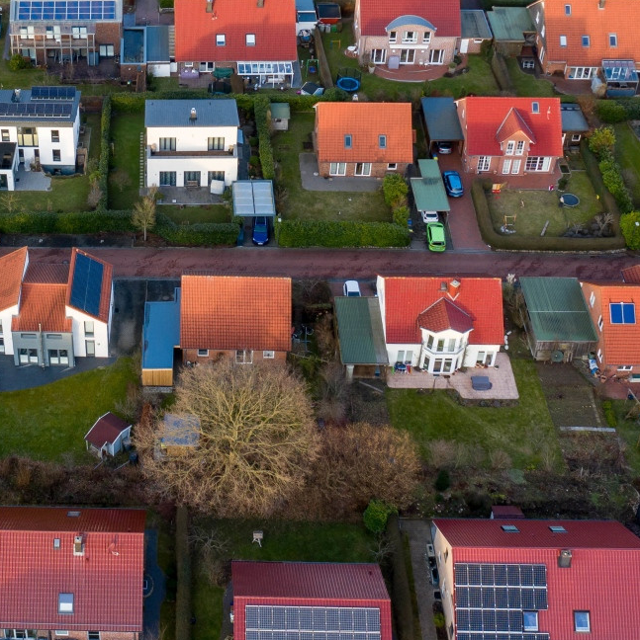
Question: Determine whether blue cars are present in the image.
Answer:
Yes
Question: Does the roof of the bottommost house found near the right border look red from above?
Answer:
Yes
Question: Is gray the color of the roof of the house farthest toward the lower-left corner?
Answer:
No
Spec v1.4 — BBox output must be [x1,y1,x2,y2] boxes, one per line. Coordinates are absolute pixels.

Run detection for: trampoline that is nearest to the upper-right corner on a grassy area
[560,194,580,207]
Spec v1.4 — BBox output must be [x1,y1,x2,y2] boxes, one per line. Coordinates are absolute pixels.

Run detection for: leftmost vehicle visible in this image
[251,219,270,249]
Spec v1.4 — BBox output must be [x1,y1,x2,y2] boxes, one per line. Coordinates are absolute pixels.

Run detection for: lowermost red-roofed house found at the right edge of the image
[416,517,640,640]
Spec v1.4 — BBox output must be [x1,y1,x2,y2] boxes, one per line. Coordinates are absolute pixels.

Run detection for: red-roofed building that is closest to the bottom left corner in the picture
[0,505,147,640]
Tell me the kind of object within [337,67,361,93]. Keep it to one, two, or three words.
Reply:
trampoline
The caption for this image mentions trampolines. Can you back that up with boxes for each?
[560,194,580,207]
[337,67,361,93]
